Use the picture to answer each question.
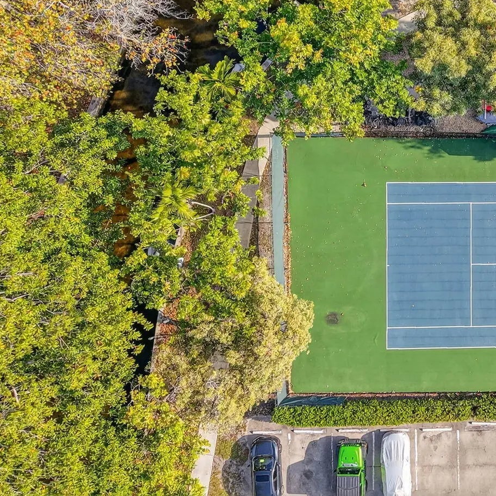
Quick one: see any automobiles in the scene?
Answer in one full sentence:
Yes, there is an automobile in the image.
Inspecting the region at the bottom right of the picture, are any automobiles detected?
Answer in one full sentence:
Yes, at the bottom right of the picture there is an automobile.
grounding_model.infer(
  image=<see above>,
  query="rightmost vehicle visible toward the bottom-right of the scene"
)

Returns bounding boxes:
[381,432,411,496]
